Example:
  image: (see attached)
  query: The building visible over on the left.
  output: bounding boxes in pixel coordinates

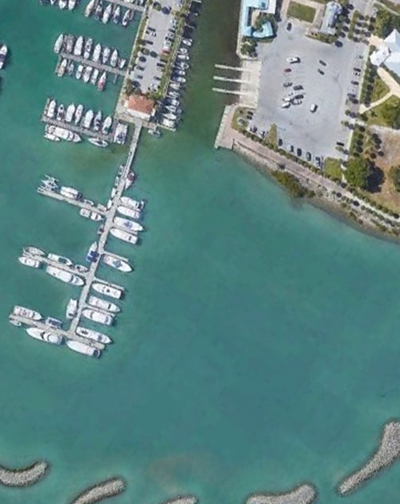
[128,95,155,113]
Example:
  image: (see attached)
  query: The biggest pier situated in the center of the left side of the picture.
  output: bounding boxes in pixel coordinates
[9,125,141,350]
